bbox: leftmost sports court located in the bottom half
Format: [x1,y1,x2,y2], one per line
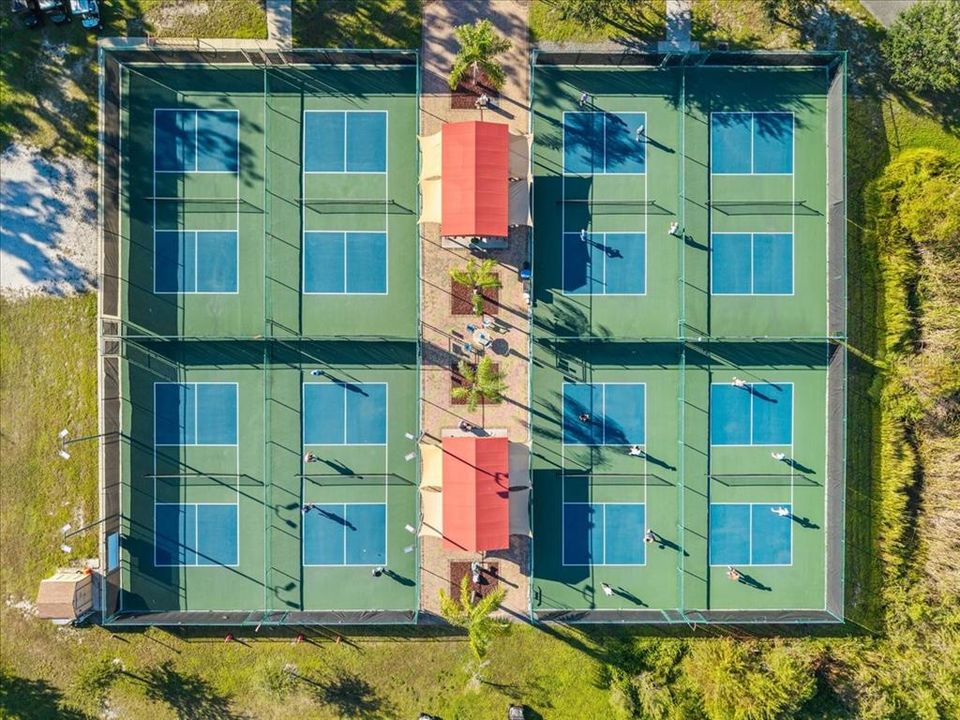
[154,382,239,567]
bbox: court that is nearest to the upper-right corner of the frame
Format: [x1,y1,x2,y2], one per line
[711,110,795,293]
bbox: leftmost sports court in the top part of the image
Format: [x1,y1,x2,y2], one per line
[153,110,238,293]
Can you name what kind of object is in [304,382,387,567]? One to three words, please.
sports court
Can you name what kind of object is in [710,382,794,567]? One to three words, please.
sports court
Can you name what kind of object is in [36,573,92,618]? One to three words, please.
shed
